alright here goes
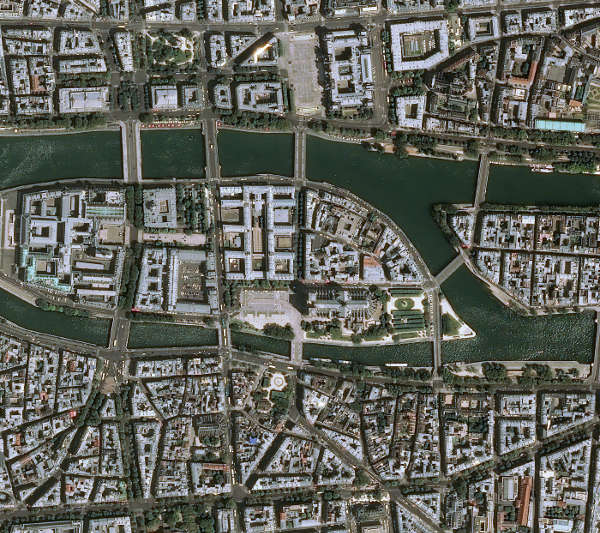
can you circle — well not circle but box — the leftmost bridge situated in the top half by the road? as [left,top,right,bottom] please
[122,120,144,180]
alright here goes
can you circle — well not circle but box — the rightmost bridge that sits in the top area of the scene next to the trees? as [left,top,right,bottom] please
[473,151,491,211]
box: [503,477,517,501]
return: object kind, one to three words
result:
building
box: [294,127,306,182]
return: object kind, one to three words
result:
bridge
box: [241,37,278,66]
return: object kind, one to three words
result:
building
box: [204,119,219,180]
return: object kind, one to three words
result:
bridge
